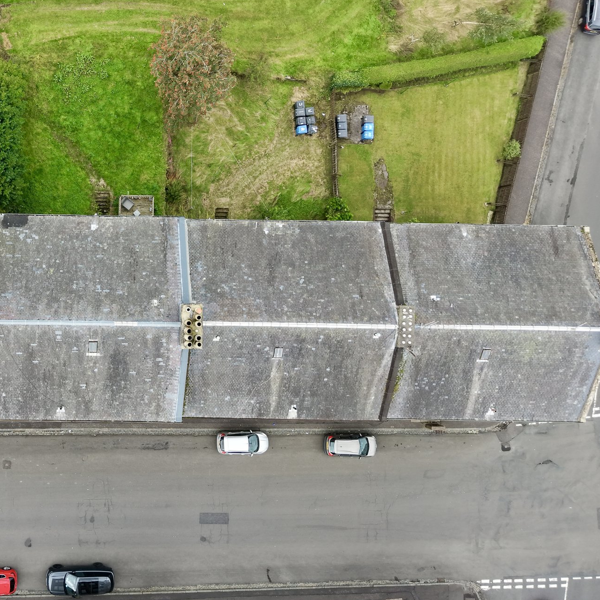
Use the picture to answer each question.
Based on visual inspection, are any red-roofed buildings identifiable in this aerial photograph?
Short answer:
No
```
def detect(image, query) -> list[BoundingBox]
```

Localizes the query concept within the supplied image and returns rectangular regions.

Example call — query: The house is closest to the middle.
[182,216,420,422]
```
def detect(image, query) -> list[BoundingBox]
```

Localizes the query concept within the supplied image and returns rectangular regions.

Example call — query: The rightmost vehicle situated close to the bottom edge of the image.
[47,564,115,600]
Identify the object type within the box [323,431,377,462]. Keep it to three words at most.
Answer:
car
